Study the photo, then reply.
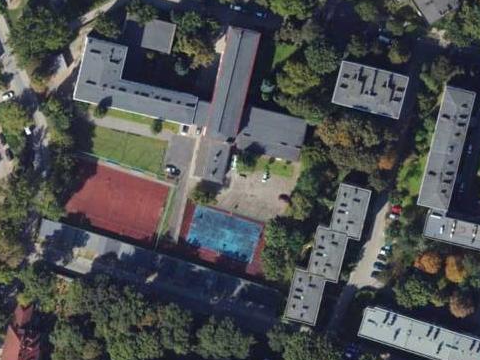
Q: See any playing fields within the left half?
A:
Yes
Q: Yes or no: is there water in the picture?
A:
No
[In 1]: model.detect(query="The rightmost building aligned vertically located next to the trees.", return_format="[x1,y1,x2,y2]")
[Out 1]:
[415,85,476,213]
